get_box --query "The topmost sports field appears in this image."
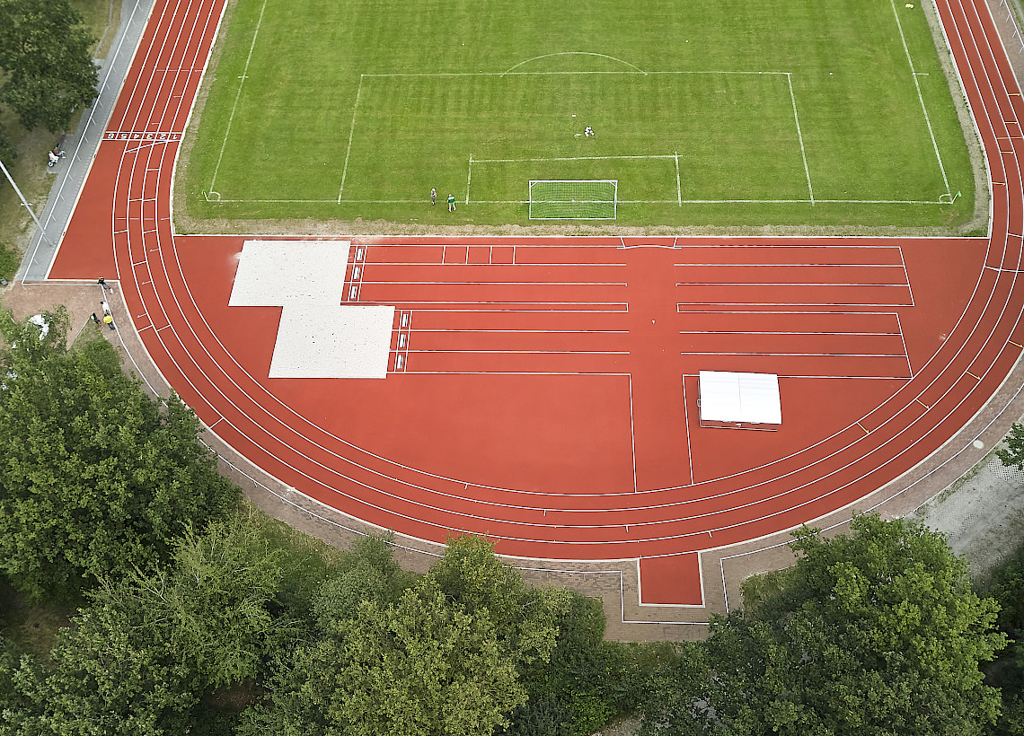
[172,0,992,236]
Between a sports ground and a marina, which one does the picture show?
sports ground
